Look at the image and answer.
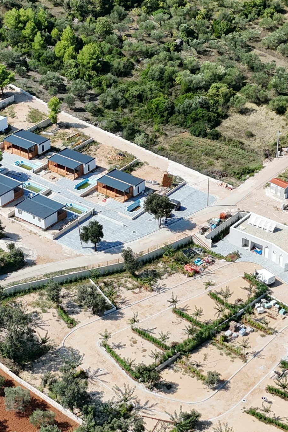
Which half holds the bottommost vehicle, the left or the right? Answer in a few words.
right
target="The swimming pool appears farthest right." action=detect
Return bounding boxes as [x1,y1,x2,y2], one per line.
[122,198,144,214]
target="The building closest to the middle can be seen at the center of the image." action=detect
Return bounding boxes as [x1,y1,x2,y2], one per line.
[96,167,146,202]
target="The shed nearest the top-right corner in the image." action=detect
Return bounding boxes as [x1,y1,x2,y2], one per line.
[265,175,288,201]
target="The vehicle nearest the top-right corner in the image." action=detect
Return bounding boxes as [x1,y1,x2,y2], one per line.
[170,197,185,210]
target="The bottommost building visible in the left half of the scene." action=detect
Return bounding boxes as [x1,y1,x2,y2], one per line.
[15,194,67,230]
